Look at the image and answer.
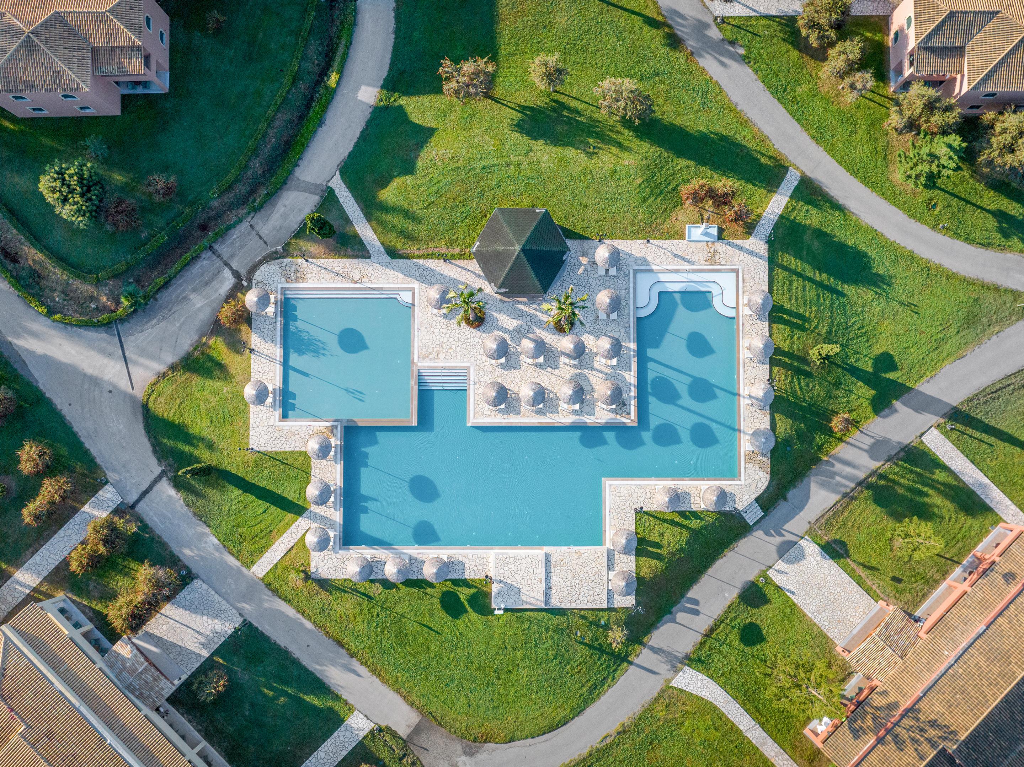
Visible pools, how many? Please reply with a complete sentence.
Altogether the scene contains 2 pools.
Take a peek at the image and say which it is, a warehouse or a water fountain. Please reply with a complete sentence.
Looking from above, you can make out a water fountain.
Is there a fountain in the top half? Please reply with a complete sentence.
Yes, a fountain is visible in the top half.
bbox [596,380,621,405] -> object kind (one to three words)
umbrella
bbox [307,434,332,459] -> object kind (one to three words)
umbrella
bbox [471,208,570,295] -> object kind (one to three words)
gazebo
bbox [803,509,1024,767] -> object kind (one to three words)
building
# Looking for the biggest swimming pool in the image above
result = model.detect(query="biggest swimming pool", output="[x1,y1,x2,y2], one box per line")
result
[337,265,744,554]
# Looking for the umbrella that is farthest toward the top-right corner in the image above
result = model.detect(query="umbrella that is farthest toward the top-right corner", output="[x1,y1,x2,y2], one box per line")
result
[746,289,771,314]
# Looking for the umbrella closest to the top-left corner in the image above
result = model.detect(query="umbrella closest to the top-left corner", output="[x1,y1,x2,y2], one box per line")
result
[246,288,271,313]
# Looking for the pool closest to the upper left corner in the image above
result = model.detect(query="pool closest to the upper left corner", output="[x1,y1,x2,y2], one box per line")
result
[276,282,418,426]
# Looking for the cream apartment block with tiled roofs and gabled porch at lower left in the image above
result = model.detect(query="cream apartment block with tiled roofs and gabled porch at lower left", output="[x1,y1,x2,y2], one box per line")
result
[0,595,227,767]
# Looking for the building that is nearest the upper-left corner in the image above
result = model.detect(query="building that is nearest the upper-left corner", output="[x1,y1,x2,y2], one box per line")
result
[0,0,171,114]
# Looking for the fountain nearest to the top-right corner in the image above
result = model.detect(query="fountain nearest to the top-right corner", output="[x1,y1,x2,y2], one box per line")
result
[686,211,719,240]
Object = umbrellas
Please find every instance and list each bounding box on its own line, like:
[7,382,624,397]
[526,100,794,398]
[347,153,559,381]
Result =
[611,528,636,553]
[558,380,583,405]
[747,334,772,358]
[596,380,621,405]
[427,285,451,310]
[483,334,508,359]
[746,289,771,314]
[611,569,636,594]
[307,434,332,459]
[424,556,448,581]
[654,486,679,511]
[385,556,410,581]
[306,526,331,551]
[521,334,545,359]
[482,381,508,406]
[595,289,620,314]
[701,485,726,510]
[348,556,373,581]
[519,380,544,405]
[596,335,621,360]
[594,243,619,268]
[307,480,332,504]
[244,381,269,406]
[747,382,772,407]
[559,334,584,359]
[246,288,271,313]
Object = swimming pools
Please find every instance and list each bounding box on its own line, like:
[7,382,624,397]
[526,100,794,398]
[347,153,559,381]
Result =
[276,282,418,426]
[337,265,744,554]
